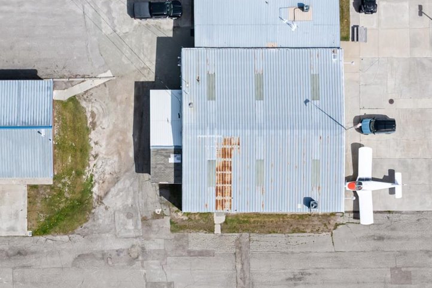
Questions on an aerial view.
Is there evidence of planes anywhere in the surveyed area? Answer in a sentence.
Yes, you can see a plane in this photo.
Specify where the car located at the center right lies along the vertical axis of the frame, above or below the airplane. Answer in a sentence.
Relative to the airplane, the car located at the center right lies above it.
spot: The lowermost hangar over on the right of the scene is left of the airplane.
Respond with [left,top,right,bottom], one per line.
[178,48,357,222]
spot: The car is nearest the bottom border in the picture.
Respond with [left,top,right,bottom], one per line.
[358,115,397,136]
